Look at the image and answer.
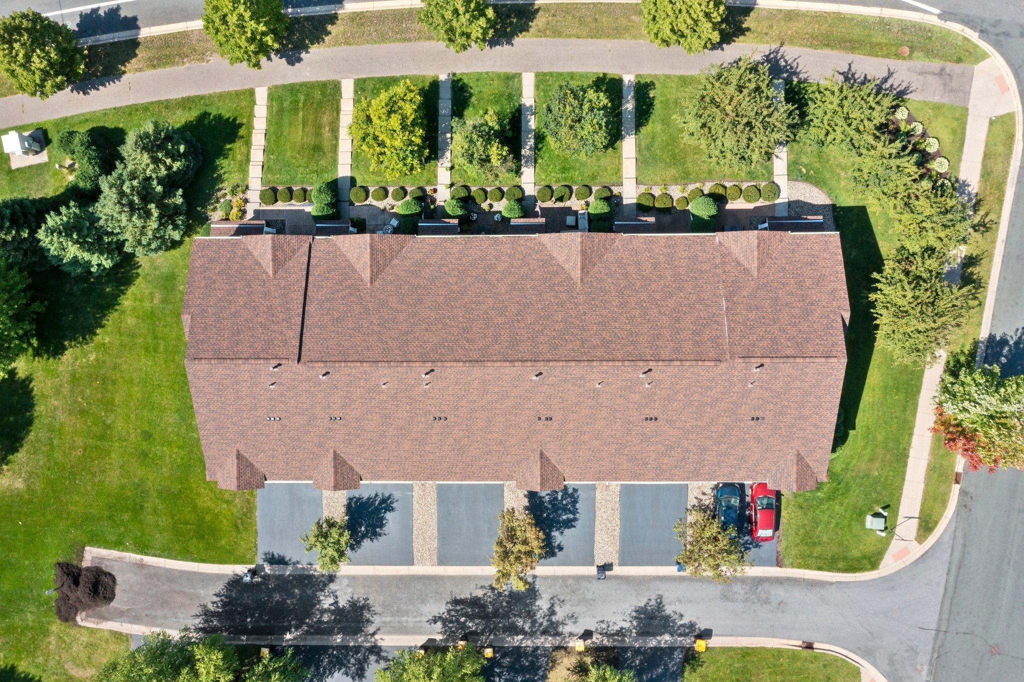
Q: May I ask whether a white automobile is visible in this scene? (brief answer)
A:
No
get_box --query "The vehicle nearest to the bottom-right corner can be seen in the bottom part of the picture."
[748,484,780,542]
